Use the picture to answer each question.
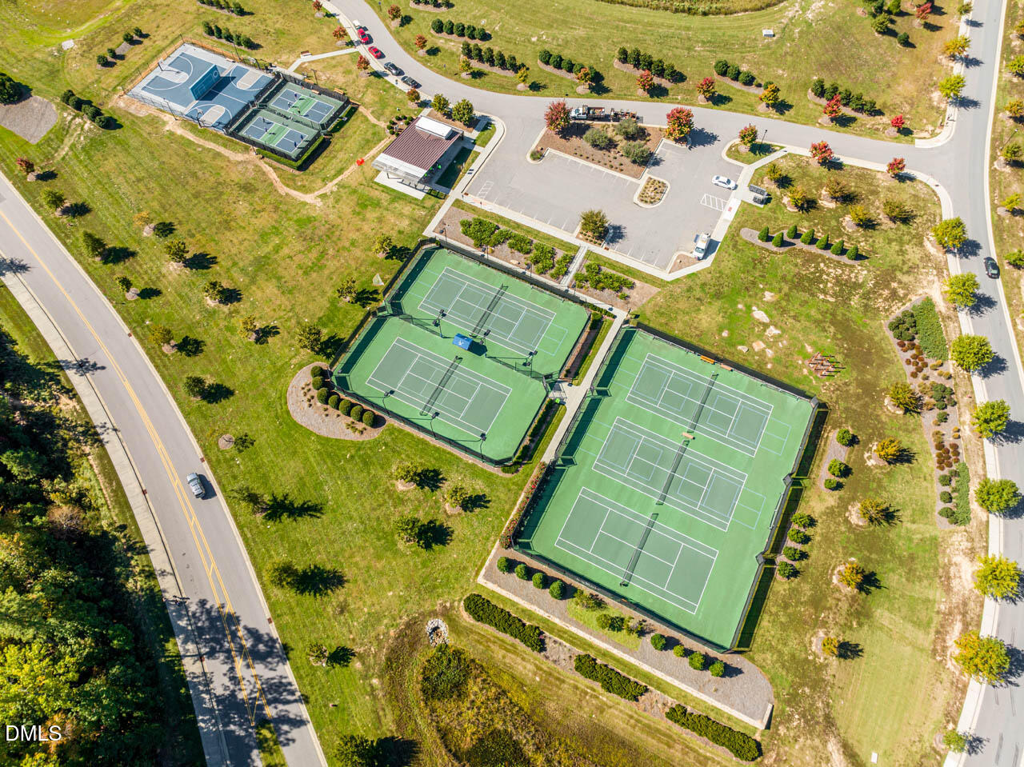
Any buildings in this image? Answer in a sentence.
Yes, a building can be made out from above.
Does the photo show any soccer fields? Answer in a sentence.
No, I find no soccer field anywhere in the image.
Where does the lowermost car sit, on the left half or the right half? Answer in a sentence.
You can find the lowermost car on the left side of the picture.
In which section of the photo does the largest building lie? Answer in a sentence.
The largest building sits in the top section of the image.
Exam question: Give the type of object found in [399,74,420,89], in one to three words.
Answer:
vehicle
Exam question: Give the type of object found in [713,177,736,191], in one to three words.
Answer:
car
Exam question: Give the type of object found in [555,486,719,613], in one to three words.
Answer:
tennis court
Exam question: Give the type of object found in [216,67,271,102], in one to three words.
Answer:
basketball court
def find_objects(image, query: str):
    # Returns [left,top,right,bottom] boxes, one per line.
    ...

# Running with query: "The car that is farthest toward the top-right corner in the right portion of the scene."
[984,259,999,279]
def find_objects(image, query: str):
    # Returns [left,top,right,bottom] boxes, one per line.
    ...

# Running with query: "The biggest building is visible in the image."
[379,113,461,191]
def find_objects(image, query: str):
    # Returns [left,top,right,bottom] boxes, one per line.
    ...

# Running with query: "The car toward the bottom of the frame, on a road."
[187,472,207,501]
